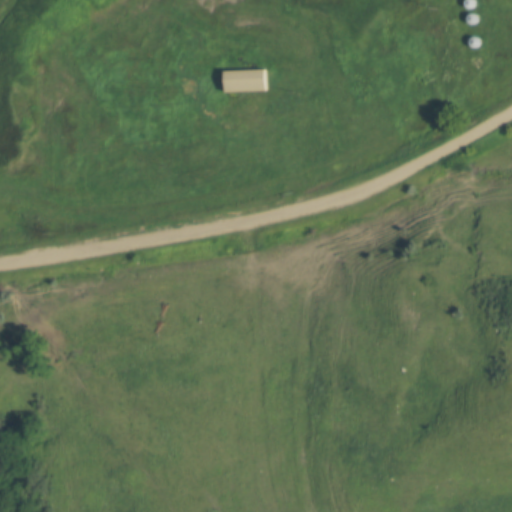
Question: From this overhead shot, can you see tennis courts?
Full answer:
No, I can't see a single tennis court in this photo.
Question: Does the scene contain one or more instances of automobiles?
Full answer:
No, the scene contains no automobile.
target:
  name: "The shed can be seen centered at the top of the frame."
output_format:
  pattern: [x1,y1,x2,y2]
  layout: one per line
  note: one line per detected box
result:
[224,68,268,93]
